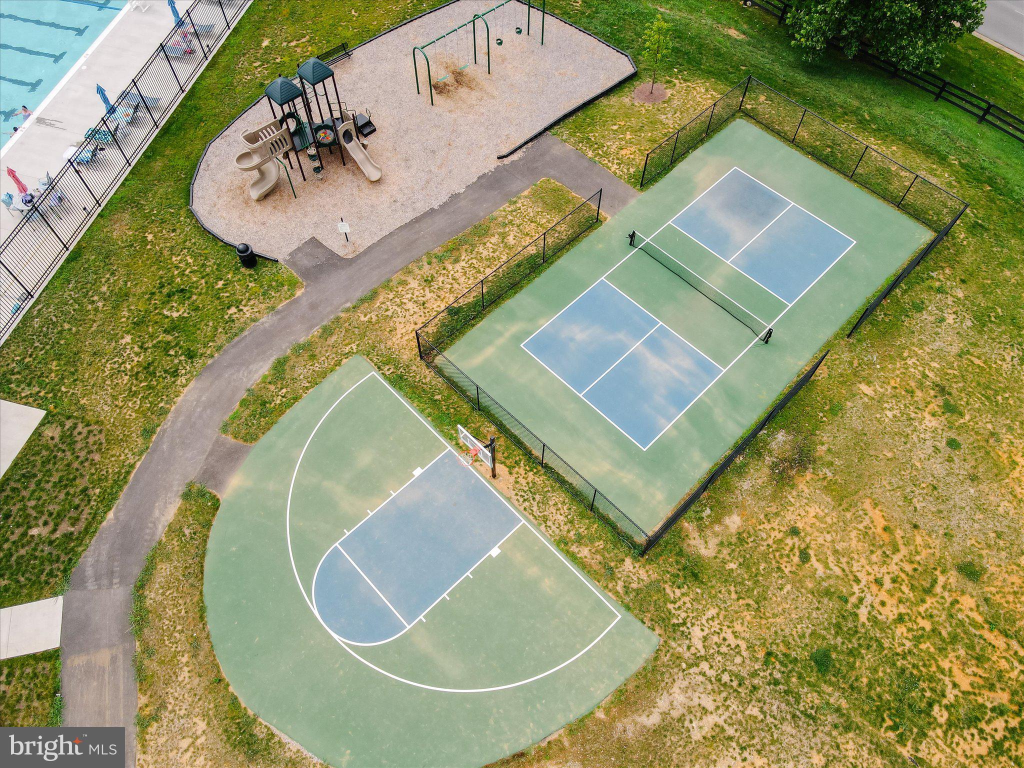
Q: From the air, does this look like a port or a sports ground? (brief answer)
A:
sports ground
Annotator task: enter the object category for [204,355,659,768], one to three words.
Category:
basketball court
